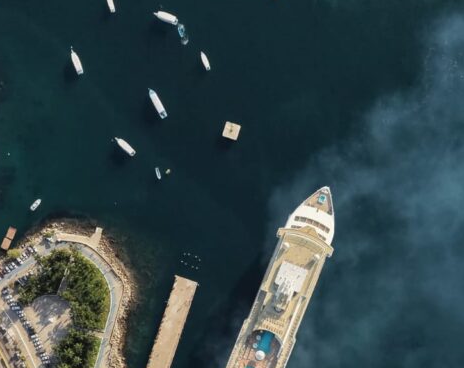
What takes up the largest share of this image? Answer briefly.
water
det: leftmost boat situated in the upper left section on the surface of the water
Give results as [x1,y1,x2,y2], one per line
[70,47,82,75]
